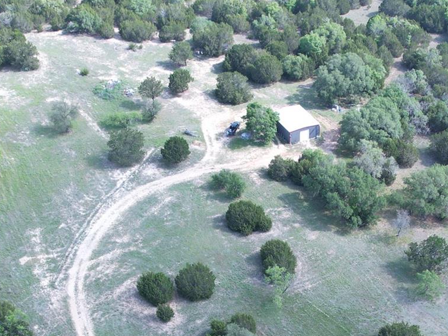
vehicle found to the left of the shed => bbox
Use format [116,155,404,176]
[219,123,241,136]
